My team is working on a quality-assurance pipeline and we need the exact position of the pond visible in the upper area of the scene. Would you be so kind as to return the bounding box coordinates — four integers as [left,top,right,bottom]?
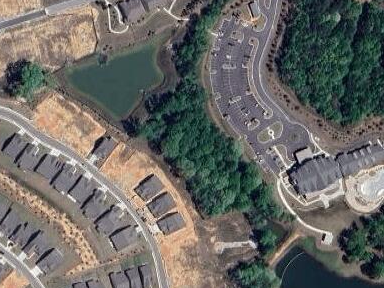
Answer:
[66,38,162,118]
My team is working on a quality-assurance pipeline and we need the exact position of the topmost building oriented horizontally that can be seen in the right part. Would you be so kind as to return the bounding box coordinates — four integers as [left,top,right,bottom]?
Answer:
[289,144,384,196]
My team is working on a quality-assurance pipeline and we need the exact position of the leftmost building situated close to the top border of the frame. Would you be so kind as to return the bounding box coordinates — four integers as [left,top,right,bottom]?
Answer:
[121,0,147,24]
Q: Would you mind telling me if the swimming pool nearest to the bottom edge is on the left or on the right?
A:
right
